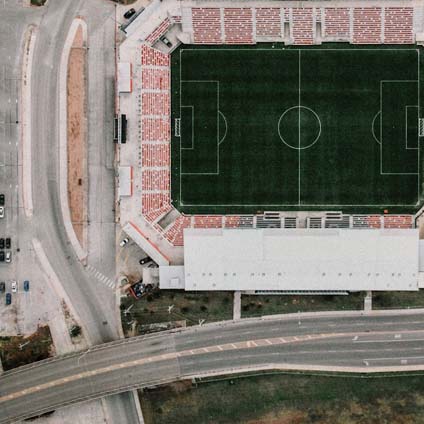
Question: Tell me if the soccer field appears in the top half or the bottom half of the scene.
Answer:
top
